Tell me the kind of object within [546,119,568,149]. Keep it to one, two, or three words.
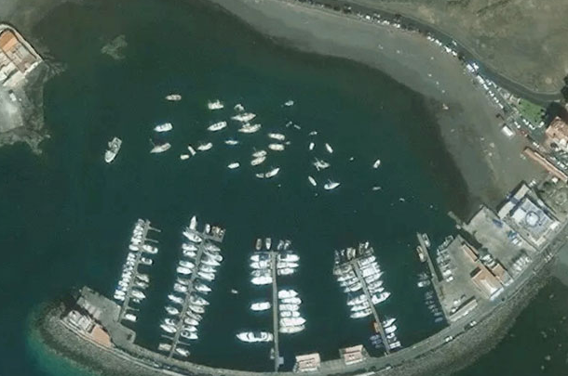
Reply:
house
